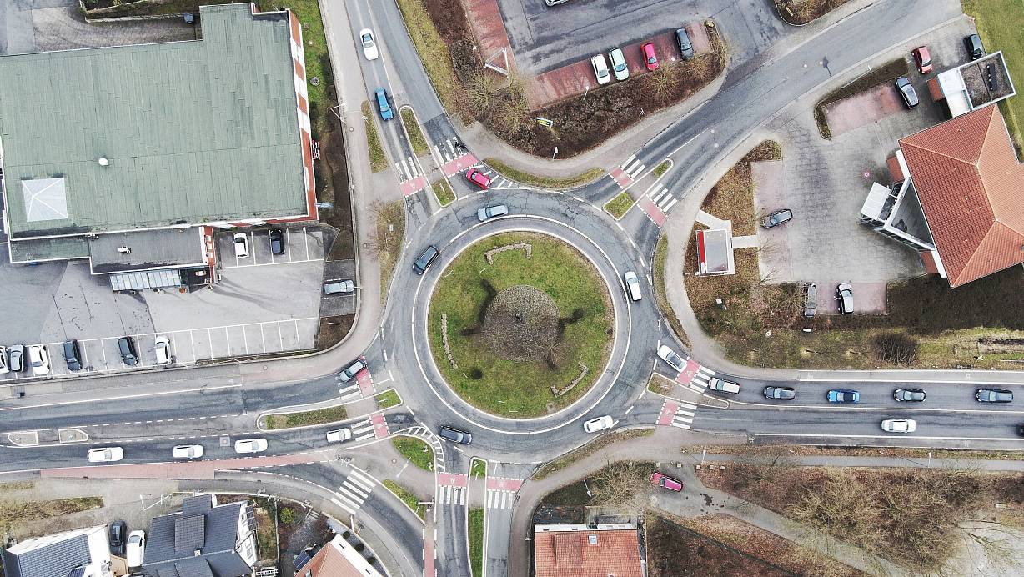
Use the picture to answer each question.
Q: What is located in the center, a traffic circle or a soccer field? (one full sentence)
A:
It is a traffic circle that can be seen in the center.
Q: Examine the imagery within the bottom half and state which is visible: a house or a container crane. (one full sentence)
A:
The feature located within the bottom half is a house.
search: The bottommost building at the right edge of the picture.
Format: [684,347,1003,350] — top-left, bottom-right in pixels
[849,103,1024,288]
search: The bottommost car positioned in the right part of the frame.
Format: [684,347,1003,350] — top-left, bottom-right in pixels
[650,470,683,492]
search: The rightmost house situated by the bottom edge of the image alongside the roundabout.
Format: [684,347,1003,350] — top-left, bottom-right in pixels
[536,507,641,577]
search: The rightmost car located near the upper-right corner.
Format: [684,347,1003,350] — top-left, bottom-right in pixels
[963,33,982,61]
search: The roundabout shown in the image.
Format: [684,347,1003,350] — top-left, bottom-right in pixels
[370,173,674,478]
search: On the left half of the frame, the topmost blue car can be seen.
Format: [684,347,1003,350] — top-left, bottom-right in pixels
[374,87,394,121]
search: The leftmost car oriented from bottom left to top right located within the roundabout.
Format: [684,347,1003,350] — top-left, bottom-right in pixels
[412,244,440,276]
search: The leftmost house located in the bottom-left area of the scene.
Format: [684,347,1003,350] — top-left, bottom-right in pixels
[4,522,118,577]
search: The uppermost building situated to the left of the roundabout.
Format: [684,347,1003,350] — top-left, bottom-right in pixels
[0,1,331,291]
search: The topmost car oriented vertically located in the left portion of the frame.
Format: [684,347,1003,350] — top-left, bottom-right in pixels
[360,27,379,62]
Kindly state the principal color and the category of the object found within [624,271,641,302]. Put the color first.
white car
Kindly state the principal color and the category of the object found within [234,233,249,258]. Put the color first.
white car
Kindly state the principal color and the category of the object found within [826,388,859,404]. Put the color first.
blue car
